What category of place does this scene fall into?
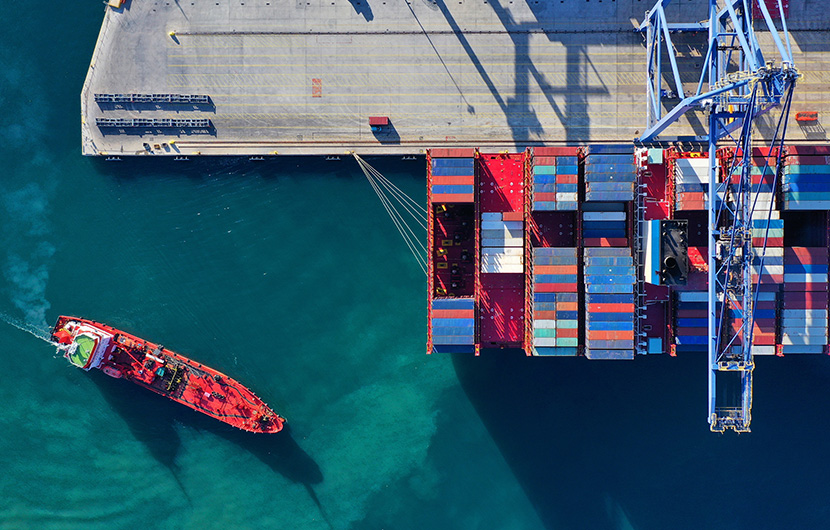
port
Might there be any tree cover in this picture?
No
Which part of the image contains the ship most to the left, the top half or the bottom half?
bottom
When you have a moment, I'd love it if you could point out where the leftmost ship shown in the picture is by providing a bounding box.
[49,314,291,432]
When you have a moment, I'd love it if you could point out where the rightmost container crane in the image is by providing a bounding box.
[630,0,809,434]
